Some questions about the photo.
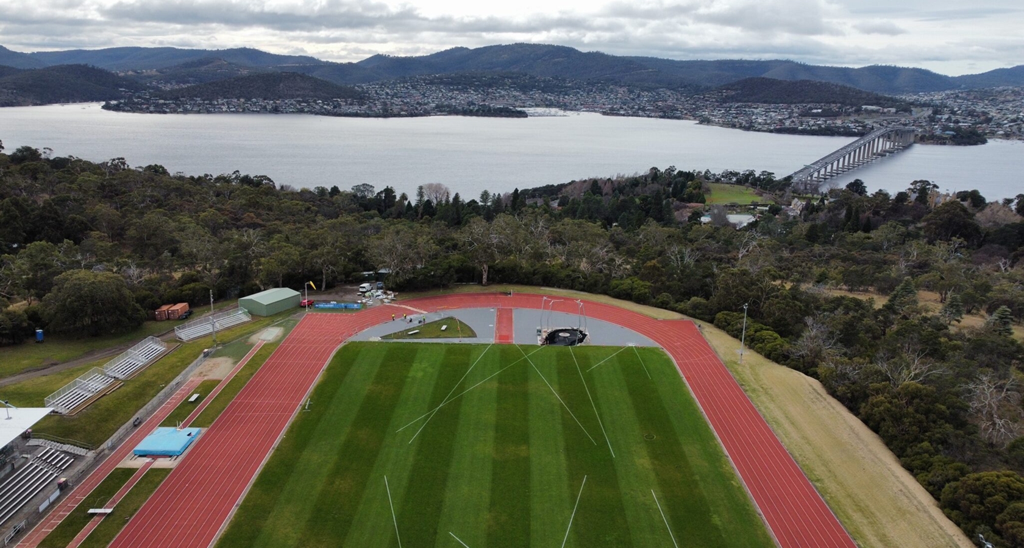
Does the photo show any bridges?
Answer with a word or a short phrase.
Yes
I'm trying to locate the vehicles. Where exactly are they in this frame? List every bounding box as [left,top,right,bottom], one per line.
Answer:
[302,298,317,306]
[357,280,375,290]
[378,278,389,287]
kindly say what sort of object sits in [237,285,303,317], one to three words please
shed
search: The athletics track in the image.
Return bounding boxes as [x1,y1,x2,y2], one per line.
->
[108,294,857,548]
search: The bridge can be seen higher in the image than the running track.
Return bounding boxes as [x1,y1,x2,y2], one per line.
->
[774,129,938,187]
